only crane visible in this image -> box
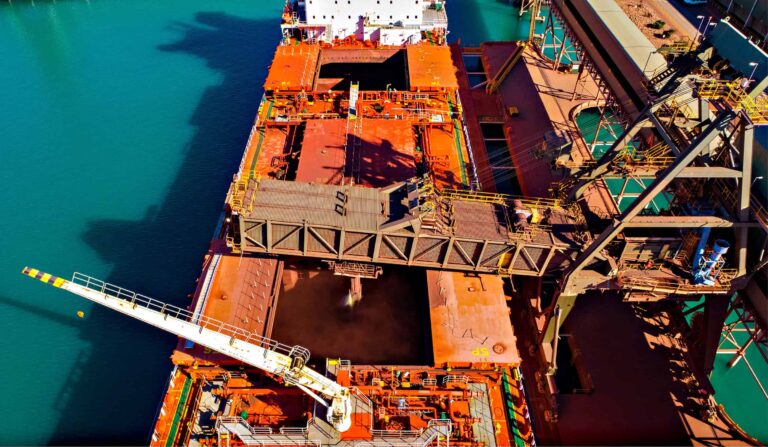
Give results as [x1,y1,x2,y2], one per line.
[20,266,372,442]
